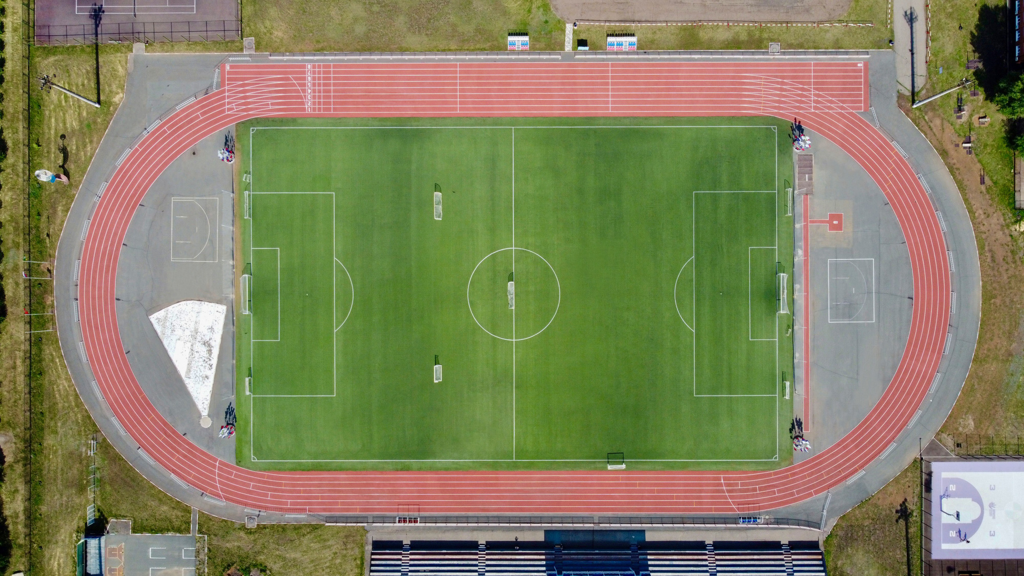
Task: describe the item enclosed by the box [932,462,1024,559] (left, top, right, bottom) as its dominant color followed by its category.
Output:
white basketball court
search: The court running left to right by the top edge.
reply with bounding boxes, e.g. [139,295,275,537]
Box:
[35,0,242,45]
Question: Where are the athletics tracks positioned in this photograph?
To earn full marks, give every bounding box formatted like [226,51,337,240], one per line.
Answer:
[78,61,951,513]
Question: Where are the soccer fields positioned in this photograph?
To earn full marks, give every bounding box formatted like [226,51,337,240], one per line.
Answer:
[235,116,794,471]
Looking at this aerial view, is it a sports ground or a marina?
sports ground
